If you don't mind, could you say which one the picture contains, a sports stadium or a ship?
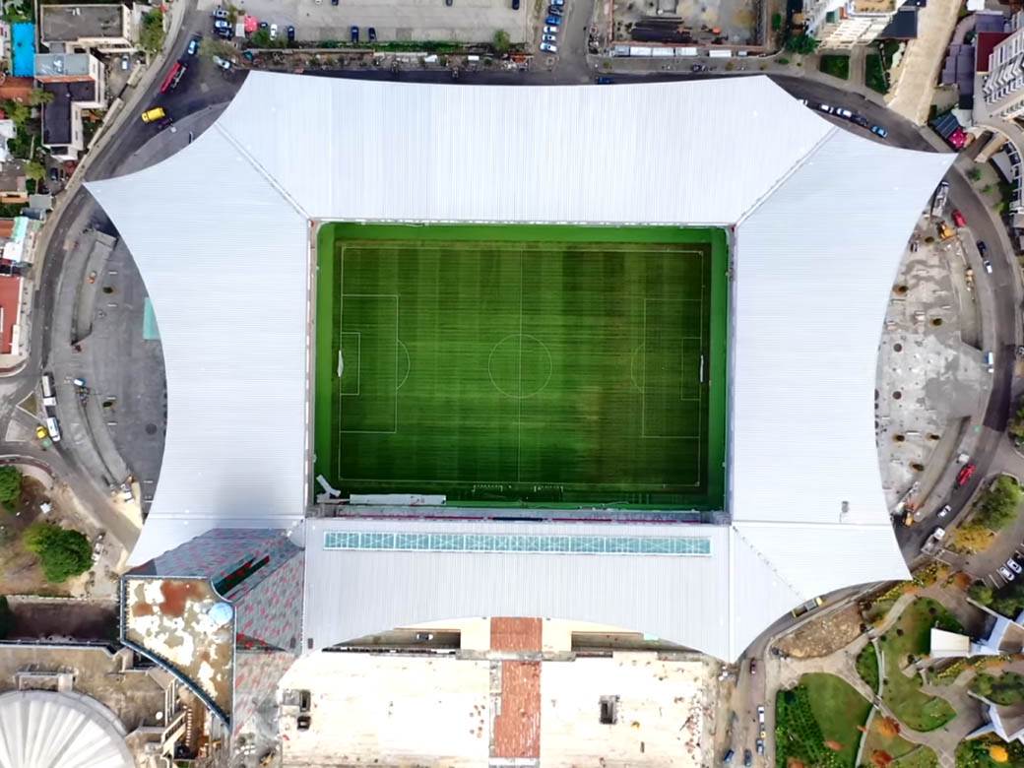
sports stadium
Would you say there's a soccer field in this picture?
Yes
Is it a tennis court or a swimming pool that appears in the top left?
swimming pool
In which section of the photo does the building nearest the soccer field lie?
bottom left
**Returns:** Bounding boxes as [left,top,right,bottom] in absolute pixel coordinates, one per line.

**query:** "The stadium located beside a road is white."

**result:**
[87,71,954,661]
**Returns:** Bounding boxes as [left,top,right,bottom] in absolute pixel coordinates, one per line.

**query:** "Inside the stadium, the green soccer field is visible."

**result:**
[307,226,727,518]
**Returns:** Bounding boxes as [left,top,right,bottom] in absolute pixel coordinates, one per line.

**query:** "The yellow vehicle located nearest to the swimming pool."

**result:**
[138,105,166,121]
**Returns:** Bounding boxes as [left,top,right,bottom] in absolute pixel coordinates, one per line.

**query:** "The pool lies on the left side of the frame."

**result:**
[11,21,35,77]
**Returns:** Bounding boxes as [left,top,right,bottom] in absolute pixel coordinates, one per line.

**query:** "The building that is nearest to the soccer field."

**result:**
[120,528,303,756]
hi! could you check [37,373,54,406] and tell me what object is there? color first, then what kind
white vehicle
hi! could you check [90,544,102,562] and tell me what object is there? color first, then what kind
white vehicle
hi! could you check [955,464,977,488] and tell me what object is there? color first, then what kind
red truck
